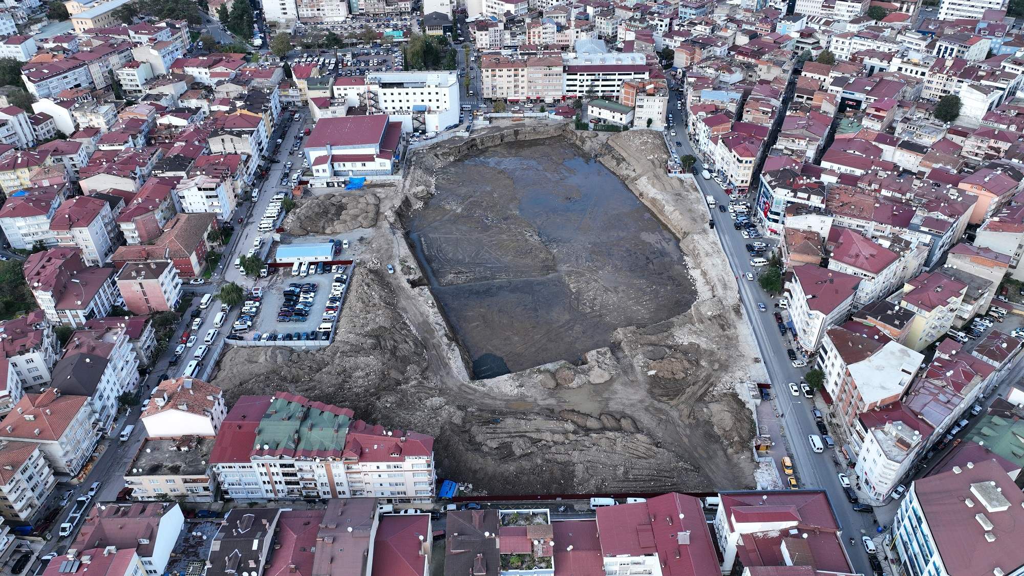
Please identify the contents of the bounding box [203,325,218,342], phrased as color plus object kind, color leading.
white vehicle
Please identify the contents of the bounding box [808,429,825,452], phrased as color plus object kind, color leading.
white vehicle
